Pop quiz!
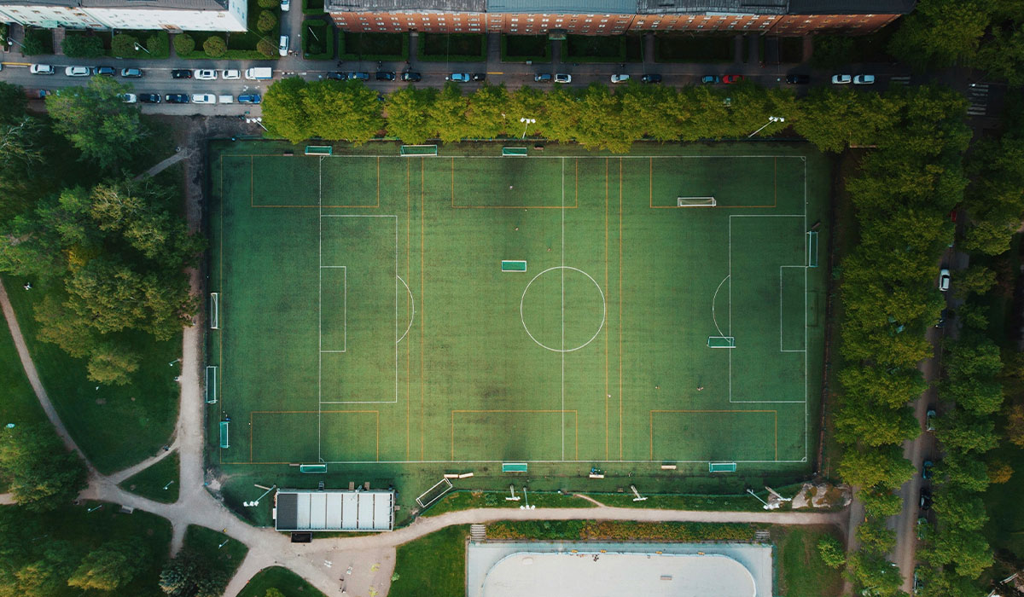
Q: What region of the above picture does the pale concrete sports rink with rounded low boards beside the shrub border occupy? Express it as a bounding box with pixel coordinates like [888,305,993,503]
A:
[465,540,775,597]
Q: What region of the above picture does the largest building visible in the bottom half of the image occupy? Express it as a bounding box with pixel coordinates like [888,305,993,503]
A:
[274,488,396,532]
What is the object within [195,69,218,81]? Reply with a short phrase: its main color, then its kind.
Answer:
white vehicle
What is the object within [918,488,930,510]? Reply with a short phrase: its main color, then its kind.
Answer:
black vehicle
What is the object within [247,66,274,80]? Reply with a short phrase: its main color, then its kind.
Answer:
white vehicle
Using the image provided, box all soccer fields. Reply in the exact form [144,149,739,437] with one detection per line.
[208,141,830,529]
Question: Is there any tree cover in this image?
Yes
